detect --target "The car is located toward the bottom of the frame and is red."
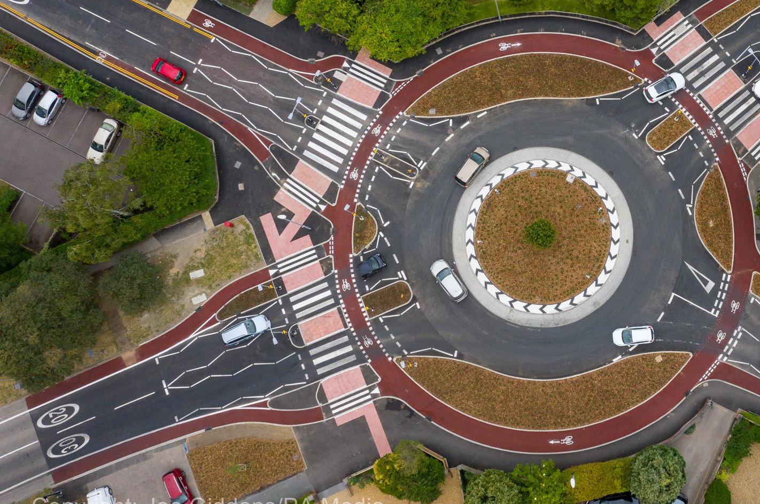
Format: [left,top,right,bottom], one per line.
[159,469,196,504]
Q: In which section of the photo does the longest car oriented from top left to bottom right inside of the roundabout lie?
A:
center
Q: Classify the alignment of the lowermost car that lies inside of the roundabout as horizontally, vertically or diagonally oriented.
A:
horizontally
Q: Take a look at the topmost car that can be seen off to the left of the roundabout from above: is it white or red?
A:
red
